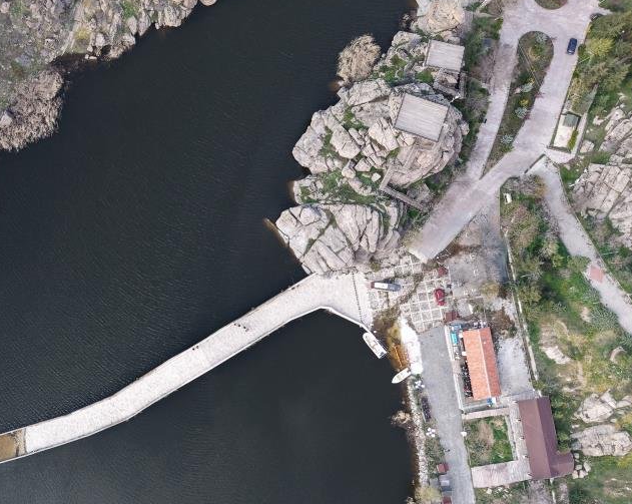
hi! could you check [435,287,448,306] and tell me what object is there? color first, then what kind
red vehicle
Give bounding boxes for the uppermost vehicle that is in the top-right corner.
[589,8,610,23]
